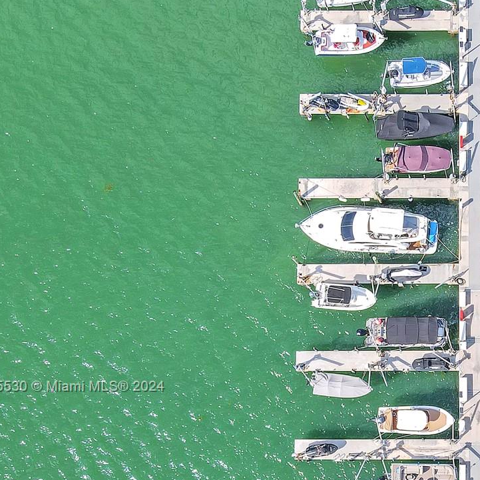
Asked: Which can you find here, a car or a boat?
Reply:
boat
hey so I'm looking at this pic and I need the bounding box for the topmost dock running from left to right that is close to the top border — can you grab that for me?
[301,10,459,37]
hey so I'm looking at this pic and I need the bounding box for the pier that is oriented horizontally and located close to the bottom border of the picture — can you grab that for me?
[295,438,459,461]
